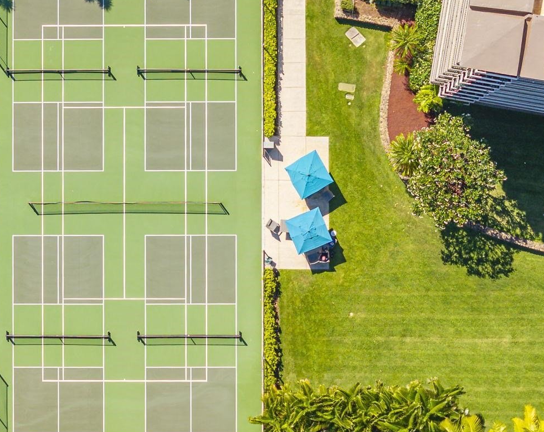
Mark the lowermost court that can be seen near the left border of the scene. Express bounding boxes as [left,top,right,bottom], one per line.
[12,235,104,432]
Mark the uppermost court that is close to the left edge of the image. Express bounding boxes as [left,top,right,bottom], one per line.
[12,0,104,172]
